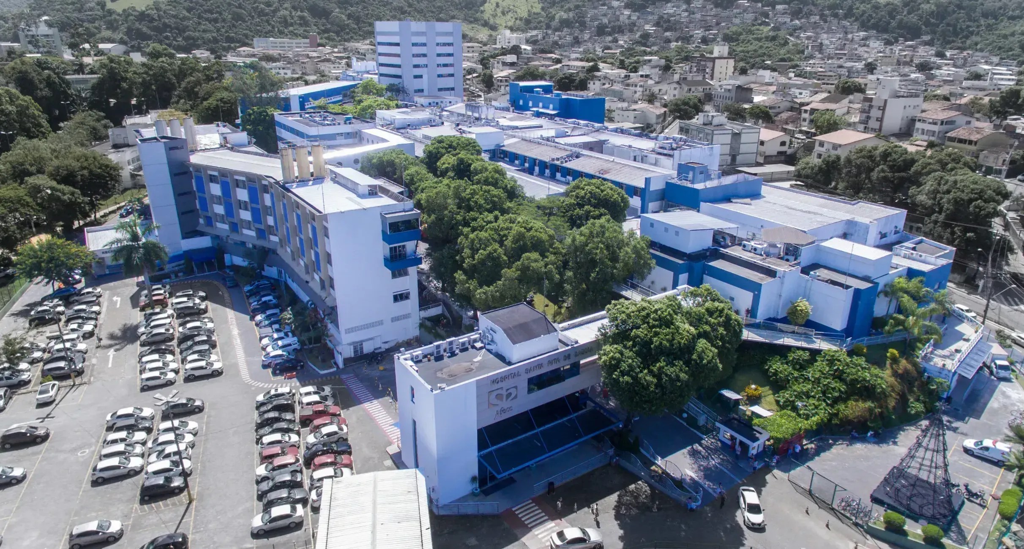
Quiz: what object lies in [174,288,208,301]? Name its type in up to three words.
vehicle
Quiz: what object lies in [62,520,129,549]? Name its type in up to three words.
car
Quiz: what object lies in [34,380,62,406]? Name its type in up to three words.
car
